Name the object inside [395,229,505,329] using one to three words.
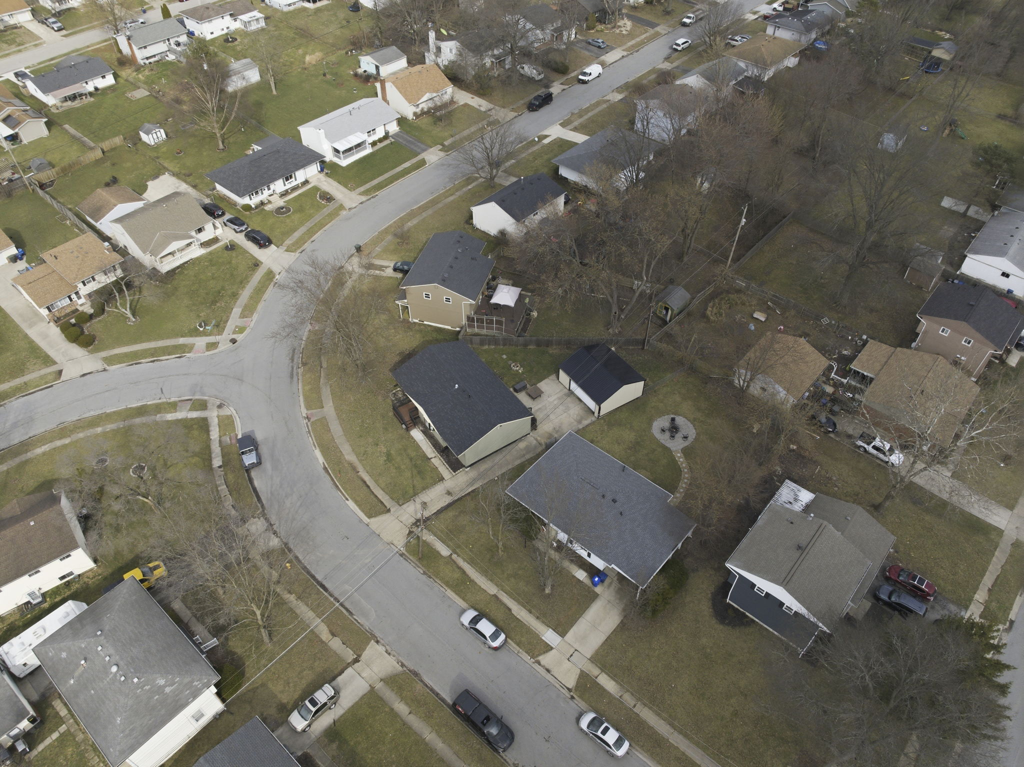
house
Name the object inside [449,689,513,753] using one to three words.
truck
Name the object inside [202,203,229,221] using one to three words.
car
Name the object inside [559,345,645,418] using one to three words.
building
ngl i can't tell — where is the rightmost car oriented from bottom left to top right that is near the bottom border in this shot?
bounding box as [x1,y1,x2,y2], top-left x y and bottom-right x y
[284,682,343,735]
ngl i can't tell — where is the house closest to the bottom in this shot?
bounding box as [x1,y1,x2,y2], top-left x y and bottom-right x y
[193,716,300,767]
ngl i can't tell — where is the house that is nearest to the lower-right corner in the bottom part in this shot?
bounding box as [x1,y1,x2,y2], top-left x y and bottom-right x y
[720,493,896,654]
